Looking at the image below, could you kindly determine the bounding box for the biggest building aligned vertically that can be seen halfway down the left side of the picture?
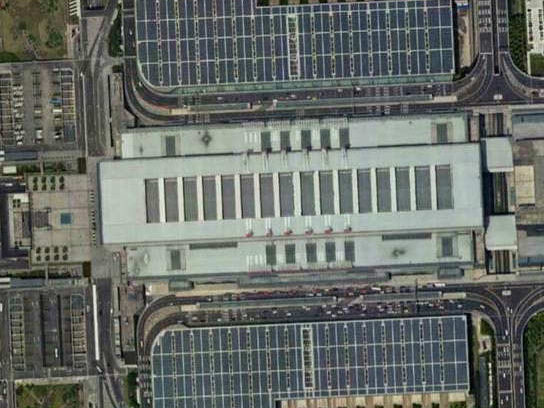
[10,191,29,248]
